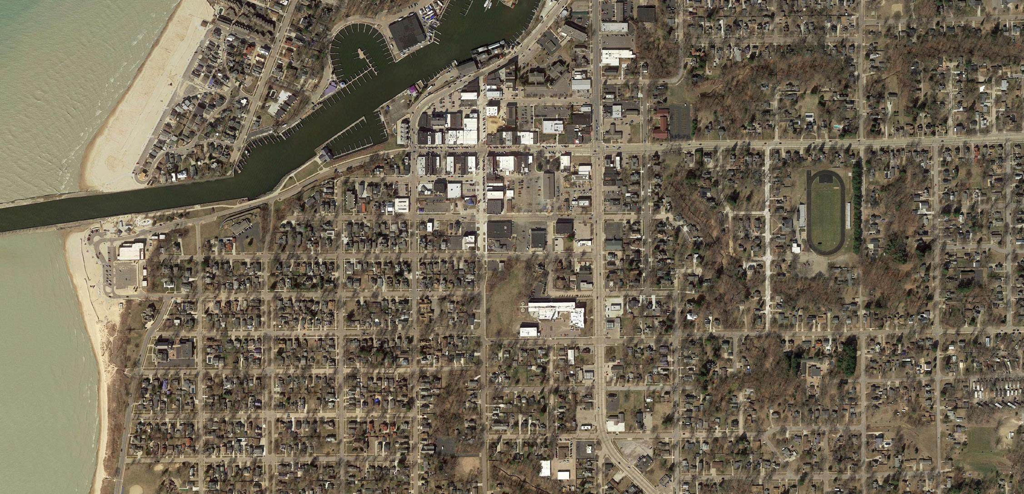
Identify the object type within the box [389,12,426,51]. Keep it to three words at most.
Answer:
building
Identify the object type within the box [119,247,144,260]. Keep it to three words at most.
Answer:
building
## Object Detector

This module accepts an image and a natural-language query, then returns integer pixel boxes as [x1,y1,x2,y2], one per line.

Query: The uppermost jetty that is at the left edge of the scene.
[0,185,136,209]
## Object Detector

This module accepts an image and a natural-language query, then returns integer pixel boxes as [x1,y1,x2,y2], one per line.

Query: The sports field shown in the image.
[811,174,841,251]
